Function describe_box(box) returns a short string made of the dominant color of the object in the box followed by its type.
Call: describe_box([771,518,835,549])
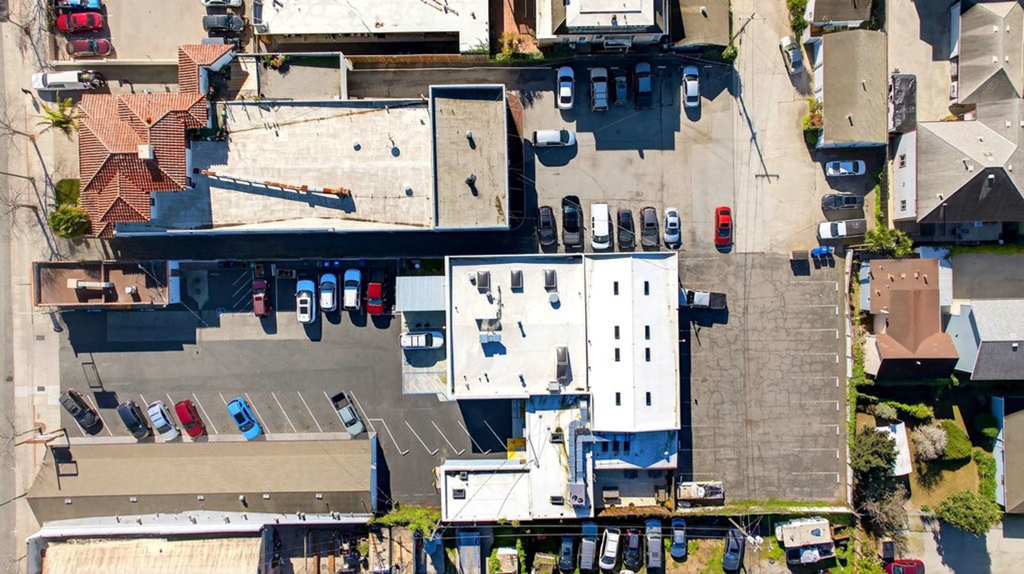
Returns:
white camper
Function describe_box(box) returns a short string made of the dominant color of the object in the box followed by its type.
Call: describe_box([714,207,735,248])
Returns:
red car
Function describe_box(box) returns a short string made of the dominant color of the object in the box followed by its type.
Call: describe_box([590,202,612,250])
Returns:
white vehicle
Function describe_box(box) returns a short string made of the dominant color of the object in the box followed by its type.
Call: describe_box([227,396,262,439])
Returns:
blue car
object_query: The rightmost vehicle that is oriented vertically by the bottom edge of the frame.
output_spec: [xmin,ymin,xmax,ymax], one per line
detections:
[723,527,745,571]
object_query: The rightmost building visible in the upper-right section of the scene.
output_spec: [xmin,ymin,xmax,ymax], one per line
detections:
[888,1,1024,241]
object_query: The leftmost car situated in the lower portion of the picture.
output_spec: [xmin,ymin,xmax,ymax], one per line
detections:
[61,388,100,435]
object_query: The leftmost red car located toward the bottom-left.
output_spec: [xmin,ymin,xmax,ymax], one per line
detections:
[173,398,207,440]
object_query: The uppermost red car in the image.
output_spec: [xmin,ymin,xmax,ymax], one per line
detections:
[57,10,106,33]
